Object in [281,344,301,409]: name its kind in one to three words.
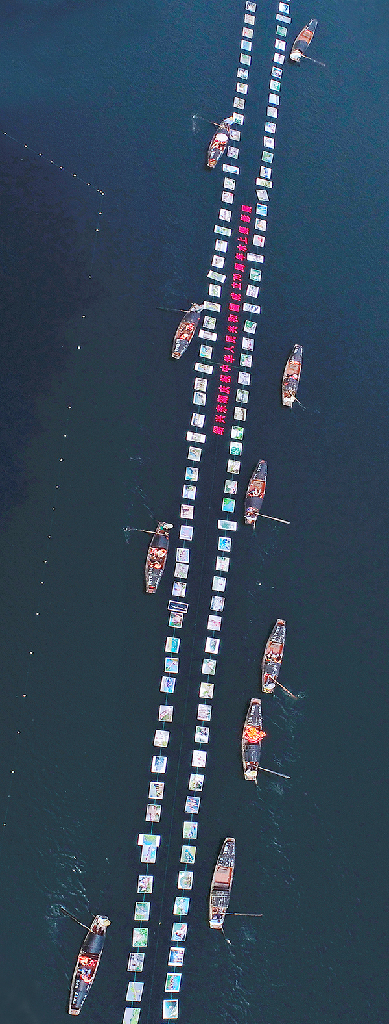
boat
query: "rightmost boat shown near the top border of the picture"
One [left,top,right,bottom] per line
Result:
[290,18,318,65]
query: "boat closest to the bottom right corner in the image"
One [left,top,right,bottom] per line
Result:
[210,836,234,929]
